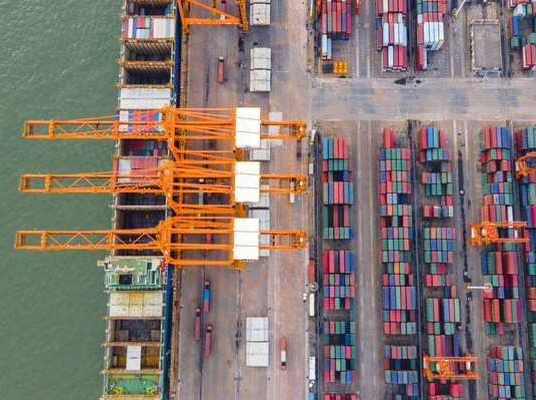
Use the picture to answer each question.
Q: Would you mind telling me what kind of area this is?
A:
port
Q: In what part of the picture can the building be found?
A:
top right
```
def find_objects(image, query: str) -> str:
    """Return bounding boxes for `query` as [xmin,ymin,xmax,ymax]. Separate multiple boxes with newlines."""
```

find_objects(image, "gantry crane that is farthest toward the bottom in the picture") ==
[419,349,479,379]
